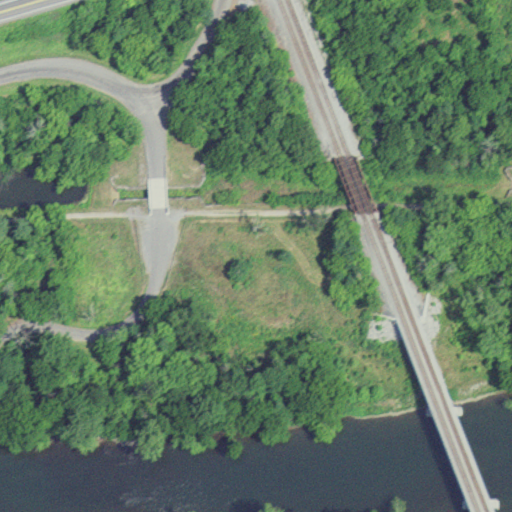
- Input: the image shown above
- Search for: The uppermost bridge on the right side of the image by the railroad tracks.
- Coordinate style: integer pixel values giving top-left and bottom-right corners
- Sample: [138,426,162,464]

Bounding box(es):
[324,155,386,216]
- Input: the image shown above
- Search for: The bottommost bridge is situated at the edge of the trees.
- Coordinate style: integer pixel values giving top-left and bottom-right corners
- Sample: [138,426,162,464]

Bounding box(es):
[371,292,500,512]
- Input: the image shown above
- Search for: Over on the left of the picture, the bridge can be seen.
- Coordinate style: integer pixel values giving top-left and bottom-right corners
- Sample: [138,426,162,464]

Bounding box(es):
[146,177,170,212]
